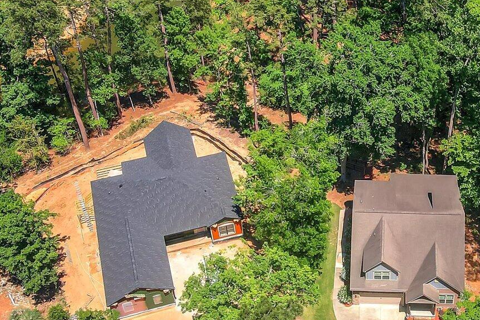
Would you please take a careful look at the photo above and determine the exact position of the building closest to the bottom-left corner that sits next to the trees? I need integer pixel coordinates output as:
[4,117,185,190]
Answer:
[92,123,244,320]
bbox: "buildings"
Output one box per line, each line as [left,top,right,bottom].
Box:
[349,159,467,320]
[92,123,244,320]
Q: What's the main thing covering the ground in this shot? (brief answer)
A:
trees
